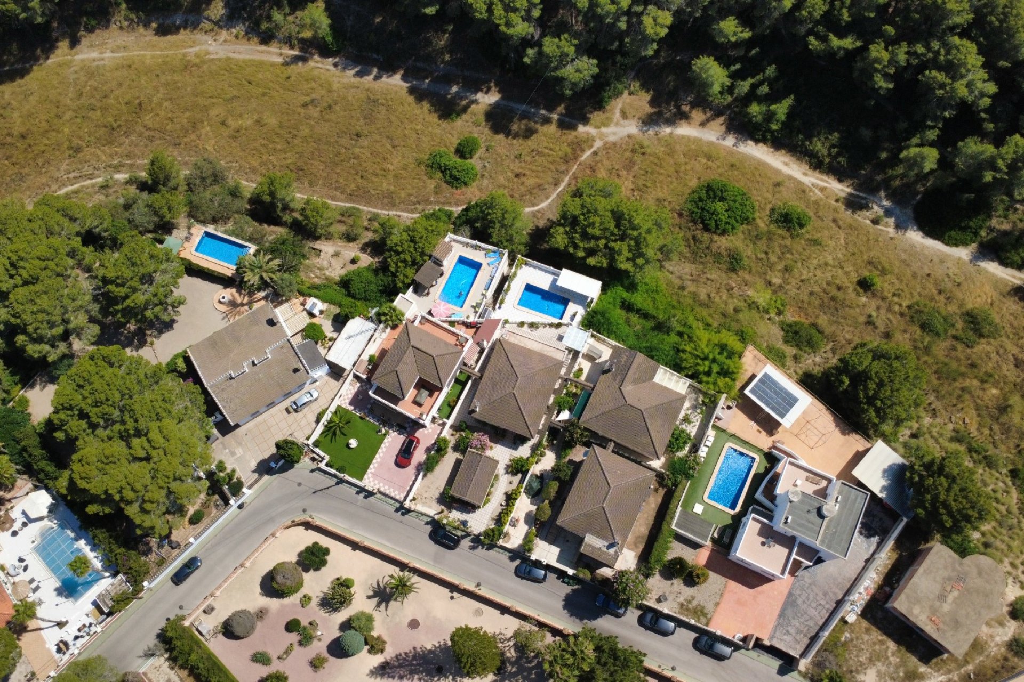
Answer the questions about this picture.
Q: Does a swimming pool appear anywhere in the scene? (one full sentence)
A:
Yes, there is a swimming pool in the image.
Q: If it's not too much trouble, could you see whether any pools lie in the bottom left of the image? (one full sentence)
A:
Yes, looking in the bottom left of the image, one can make out a pool.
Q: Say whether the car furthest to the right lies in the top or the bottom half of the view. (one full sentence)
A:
It is in the bottom half that the car furthest to the right appears.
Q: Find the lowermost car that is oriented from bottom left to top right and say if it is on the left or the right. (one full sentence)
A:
The lowermost car that is oriented from bottom left to top right appears in the left half of the scene.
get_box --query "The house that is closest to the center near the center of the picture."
[470,329,567,441]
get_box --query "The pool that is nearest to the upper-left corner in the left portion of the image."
[191,227,257,273]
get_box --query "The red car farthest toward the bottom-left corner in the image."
[395,432,422,470]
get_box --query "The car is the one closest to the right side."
[692,632,737,664]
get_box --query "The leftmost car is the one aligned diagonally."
[166,553,207,590]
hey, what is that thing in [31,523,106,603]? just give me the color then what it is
blue swimming pool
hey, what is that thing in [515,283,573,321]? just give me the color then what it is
blue swimming pool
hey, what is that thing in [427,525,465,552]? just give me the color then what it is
black car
